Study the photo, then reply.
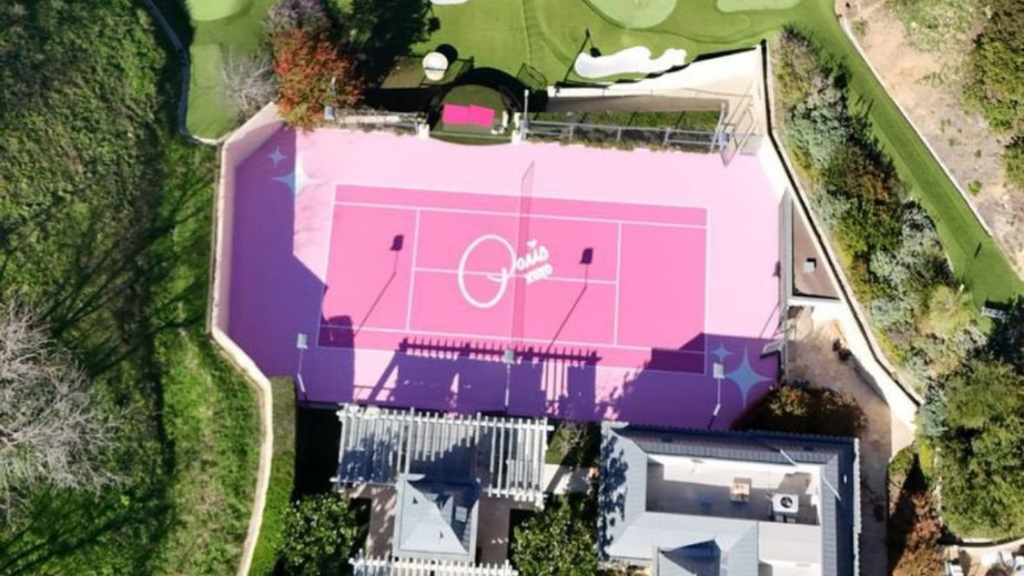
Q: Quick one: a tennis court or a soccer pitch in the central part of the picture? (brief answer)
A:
tennis court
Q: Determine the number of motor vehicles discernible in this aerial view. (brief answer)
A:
0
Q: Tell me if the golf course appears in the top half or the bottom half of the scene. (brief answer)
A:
top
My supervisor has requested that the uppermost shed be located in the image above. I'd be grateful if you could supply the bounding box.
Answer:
[777,189,843,327]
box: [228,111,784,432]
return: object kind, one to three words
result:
tennis court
